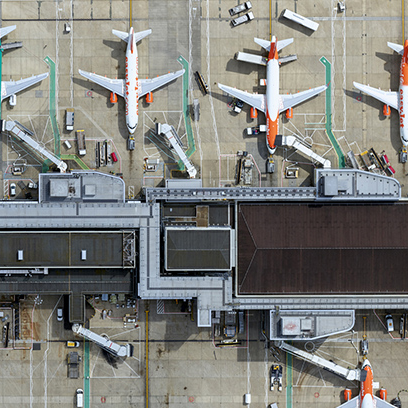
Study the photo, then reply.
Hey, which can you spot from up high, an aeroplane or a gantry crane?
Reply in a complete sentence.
The image shows an aeroplane.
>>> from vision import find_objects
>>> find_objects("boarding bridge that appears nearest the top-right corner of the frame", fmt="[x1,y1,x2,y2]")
[276,134,332,169]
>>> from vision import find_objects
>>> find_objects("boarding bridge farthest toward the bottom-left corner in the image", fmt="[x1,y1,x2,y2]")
[72,321,134,358]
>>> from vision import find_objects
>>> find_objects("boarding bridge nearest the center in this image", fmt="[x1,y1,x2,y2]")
[155,123,198,180]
